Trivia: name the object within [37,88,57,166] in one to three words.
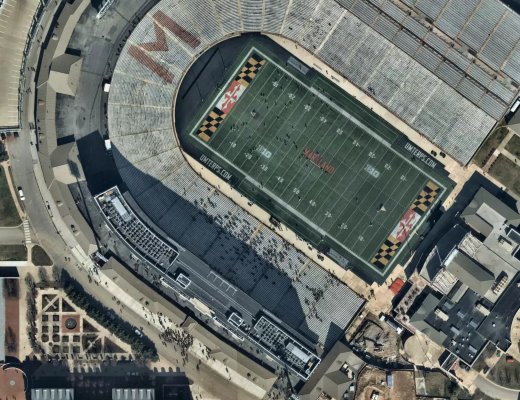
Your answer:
building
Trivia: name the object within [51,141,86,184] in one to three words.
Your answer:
building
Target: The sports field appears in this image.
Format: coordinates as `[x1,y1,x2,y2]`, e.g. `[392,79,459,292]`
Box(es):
[176,32,459,288]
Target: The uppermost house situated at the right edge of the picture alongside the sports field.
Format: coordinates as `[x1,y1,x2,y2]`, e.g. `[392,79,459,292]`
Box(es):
[419,187,520,304]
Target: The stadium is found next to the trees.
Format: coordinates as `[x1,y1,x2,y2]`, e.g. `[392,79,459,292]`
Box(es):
[108,0,520,349]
